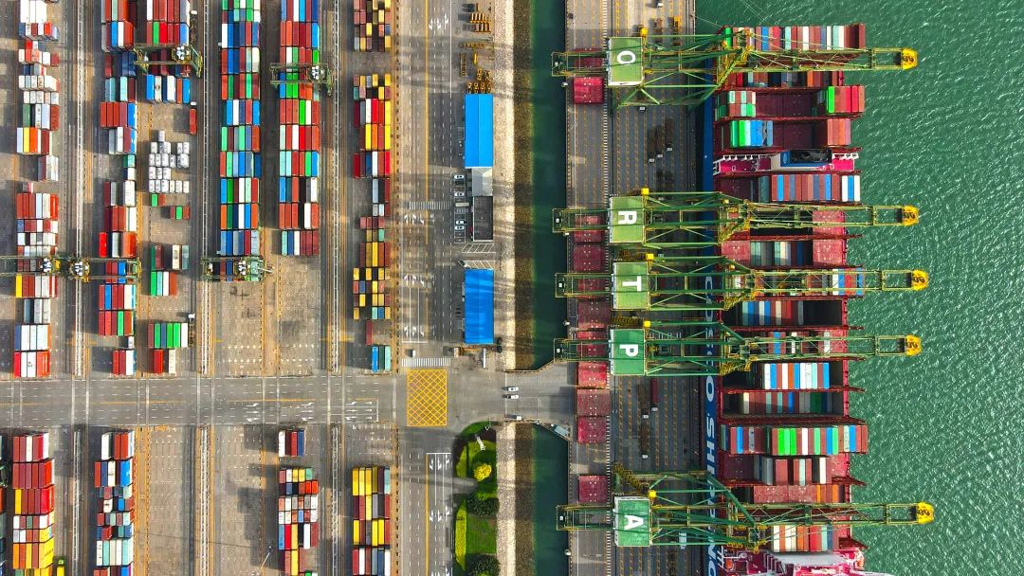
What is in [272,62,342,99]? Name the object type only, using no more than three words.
crane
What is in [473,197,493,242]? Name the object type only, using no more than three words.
building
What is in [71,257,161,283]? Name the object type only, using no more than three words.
crane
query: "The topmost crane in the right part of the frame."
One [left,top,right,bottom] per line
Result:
[551,31,918,117]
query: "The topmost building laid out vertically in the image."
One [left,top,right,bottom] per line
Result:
[465,93,493,169]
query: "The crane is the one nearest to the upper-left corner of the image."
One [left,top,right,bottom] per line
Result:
[136,44,216,81]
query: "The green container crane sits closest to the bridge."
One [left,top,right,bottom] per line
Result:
[553,315,921,378]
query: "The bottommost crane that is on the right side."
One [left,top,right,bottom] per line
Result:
[557,463,934,549]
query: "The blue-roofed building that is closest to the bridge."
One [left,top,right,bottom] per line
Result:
[465,269,494,344]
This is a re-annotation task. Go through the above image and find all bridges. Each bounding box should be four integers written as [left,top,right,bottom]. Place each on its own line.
[494,362,572,447]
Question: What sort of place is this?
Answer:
port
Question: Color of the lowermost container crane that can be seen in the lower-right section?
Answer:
green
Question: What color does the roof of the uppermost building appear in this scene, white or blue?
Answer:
blue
